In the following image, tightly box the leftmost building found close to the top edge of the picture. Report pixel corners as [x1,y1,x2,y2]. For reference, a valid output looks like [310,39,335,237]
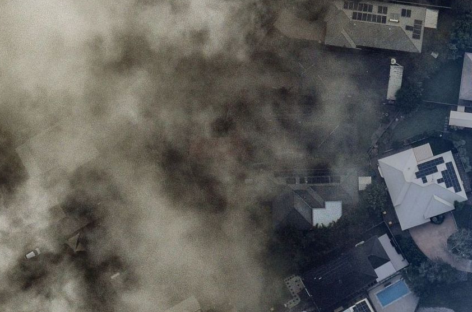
[325,0,426,53]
